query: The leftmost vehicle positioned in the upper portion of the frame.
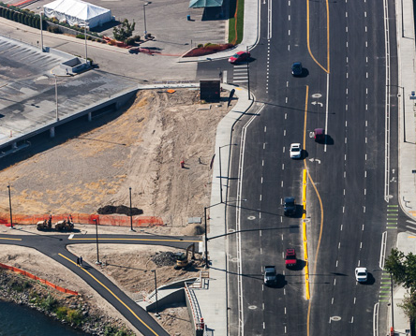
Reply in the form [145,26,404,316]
[228,52,250,64]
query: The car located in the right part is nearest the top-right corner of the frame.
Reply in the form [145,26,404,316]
[291,60,303,76]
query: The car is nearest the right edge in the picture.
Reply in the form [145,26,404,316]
[355,270,368,282]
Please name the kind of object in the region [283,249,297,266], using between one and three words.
vehicle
